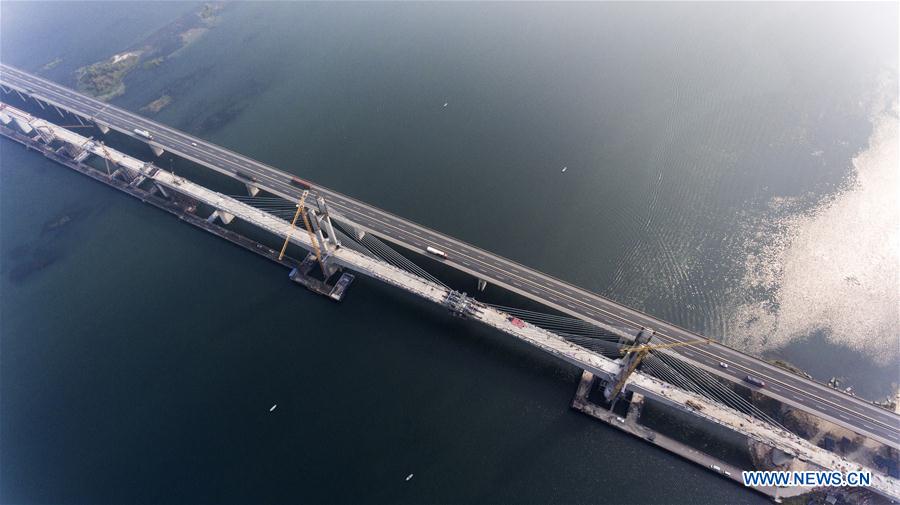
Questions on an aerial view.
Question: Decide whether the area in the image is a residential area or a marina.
marina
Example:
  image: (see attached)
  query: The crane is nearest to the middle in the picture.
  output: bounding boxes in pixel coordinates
[278,190,330,284]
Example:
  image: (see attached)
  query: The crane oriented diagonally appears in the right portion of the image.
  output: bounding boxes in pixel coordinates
[613,339,709,408]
